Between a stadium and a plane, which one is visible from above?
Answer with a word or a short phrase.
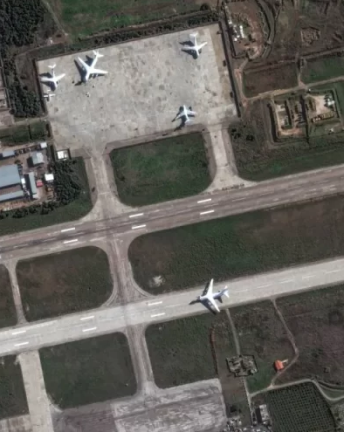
plane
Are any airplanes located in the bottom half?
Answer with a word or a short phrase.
Yes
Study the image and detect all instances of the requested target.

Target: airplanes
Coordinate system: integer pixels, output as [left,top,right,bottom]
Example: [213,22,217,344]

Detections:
[200,279,232,310]
[177,104,198,125]
[79,49,109,81]
[42,62,67,89]
[184,32,208,57]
